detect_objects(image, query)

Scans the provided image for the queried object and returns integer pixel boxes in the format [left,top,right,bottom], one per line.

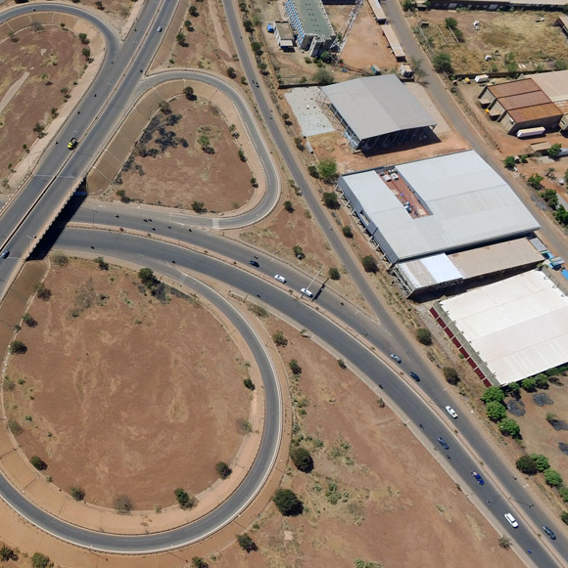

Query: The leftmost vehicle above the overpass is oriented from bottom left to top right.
[66,137,79,151]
